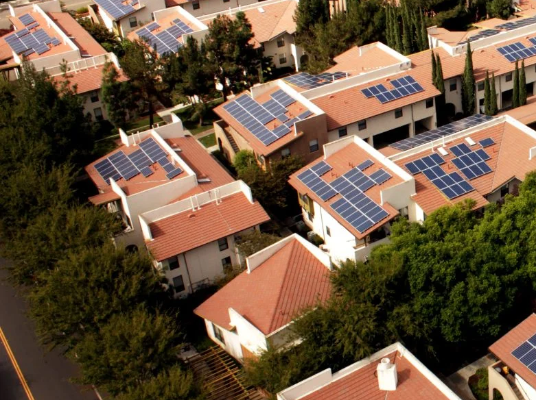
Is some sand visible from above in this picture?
No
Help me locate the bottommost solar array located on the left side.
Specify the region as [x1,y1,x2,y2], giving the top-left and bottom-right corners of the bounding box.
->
[94,138,194,182]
